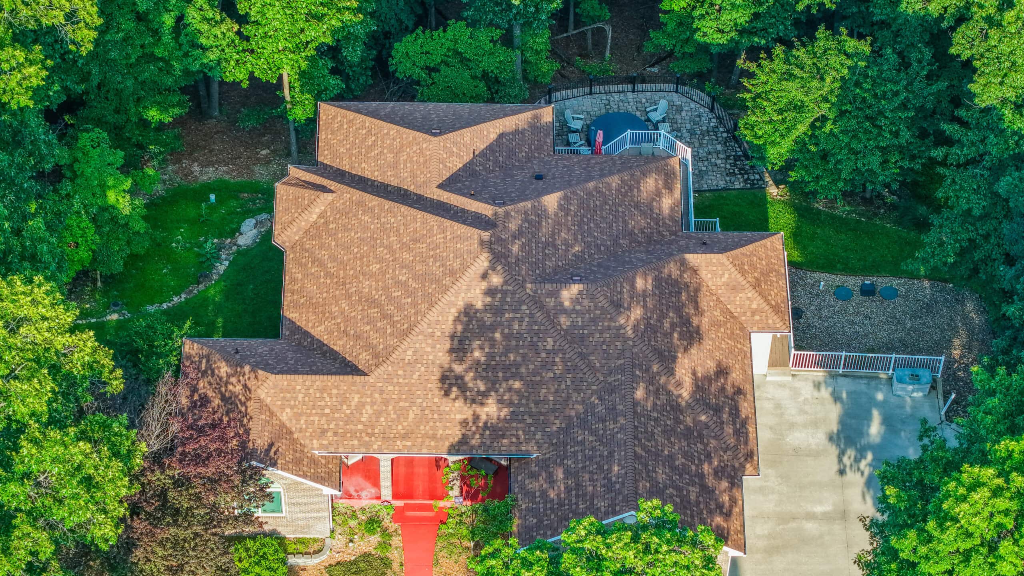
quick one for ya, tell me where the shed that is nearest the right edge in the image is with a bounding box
[894,362,936,394]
